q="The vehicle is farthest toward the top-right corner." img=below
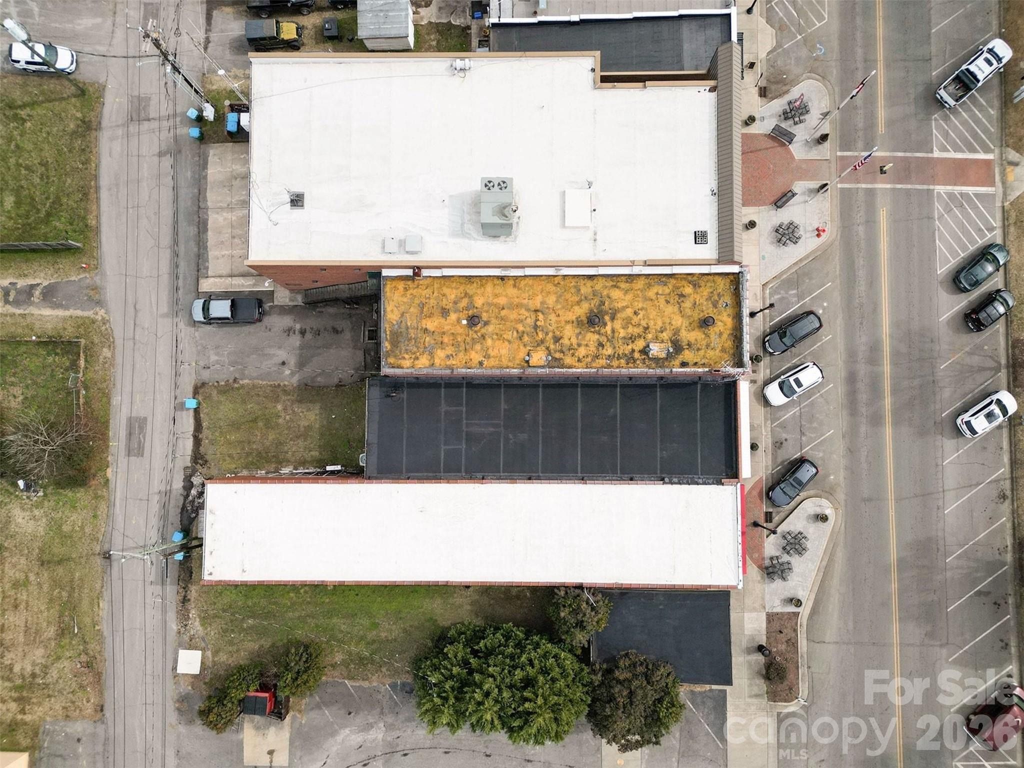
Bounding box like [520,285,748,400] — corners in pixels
[934,43,1008,108]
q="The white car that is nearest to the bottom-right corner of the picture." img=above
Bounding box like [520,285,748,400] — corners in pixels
[950,390,1015,439]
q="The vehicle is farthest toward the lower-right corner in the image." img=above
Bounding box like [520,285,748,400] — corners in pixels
[970,683,1024,749]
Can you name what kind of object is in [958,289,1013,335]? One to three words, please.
car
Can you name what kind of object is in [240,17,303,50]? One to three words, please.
car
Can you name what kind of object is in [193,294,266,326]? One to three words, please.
truck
